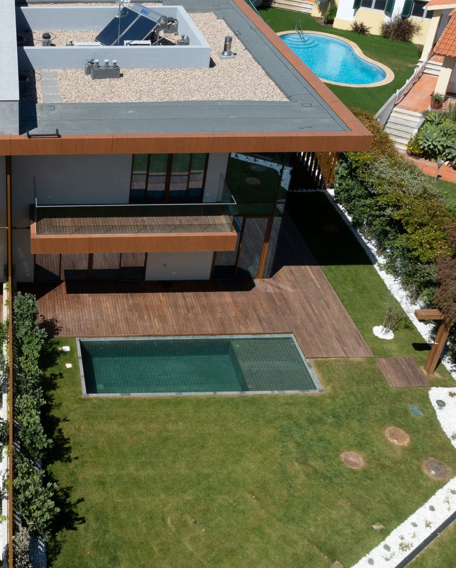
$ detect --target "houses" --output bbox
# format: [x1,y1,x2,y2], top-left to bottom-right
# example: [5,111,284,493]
[334,0,456,114]
[0,0,373,284]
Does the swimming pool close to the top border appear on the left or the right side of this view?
right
